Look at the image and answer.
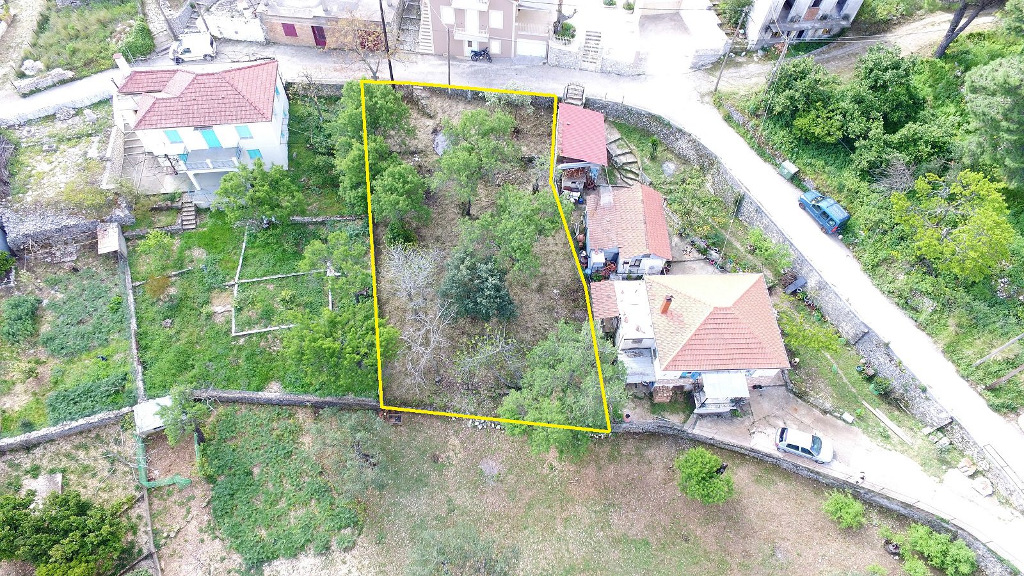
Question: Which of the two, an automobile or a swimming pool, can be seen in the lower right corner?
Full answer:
The one visible in the lower right corner is an automobile.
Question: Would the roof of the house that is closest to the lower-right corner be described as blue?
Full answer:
No, from above the roof of the house that is closest to the lower-right corner looks white.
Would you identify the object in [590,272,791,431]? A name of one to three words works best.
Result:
house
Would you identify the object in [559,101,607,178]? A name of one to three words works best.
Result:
shed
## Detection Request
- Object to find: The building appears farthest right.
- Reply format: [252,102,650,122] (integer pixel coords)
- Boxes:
[748,0,870,49]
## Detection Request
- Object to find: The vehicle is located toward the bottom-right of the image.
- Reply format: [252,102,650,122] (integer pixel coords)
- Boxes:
[776,426,837,463]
